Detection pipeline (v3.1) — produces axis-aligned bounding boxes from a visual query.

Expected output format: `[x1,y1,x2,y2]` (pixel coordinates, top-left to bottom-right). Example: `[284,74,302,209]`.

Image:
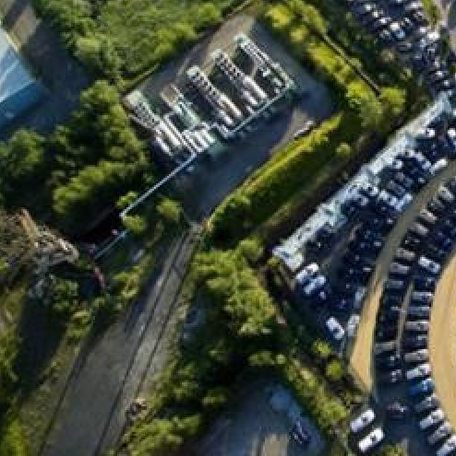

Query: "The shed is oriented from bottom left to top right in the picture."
[272,89,447,256]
